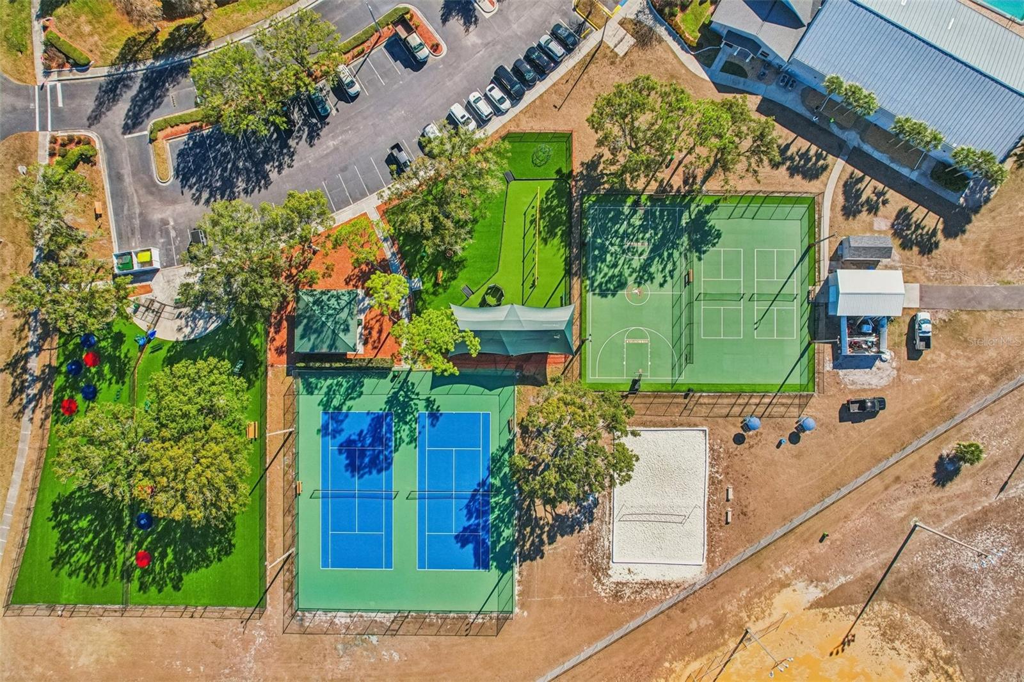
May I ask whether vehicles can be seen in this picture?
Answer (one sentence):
Yes, there's a vehicle here.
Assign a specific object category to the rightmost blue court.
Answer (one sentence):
From above, the rightmost blue court can be identified as a tennis court.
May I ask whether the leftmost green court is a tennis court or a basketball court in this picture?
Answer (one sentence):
It looks like the leftmost green court is a basketball court.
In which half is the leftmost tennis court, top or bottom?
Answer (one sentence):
Seen from above, the leftmost tennis court lies in the bottom half of the view.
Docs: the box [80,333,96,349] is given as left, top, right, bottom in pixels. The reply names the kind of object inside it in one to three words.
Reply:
umbrella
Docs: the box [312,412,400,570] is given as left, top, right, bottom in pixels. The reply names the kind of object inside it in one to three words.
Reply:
tennis court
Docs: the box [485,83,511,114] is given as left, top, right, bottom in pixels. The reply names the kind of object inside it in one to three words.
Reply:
car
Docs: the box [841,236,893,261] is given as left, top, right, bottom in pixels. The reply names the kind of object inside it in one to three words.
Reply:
shed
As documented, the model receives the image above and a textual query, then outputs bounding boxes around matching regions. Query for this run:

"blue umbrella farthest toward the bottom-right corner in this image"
[802,418,815,431]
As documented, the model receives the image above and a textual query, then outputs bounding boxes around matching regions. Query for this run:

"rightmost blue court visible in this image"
[410,412,497,571]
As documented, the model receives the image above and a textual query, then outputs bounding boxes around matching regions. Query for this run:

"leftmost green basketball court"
[589,206,685,380]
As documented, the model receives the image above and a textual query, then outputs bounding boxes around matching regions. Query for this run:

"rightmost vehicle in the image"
[913,312,932,351]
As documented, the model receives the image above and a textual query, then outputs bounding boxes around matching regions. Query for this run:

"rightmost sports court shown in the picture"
[754,249,800,339]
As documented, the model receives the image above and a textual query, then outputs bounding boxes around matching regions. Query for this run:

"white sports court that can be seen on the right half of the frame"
[612,429,708,565]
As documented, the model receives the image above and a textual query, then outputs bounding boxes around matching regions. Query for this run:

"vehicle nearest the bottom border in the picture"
[844,397,886,413]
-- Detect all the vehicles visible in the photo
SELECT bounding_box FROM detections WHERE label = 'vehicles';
[551,22,580,50]
[493,64,525,100]
[913,312,932,351]
[400,14,434,62]
[468,91,495,122]
[511,57,538,87]
[485,83,511,114]
[449,101,477,132]
[844,397,886,413]
[539,35,567,63]
[391,143,416,180]
[309,88,332,119]
[337,64,362,98]
[525,47,554,75]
